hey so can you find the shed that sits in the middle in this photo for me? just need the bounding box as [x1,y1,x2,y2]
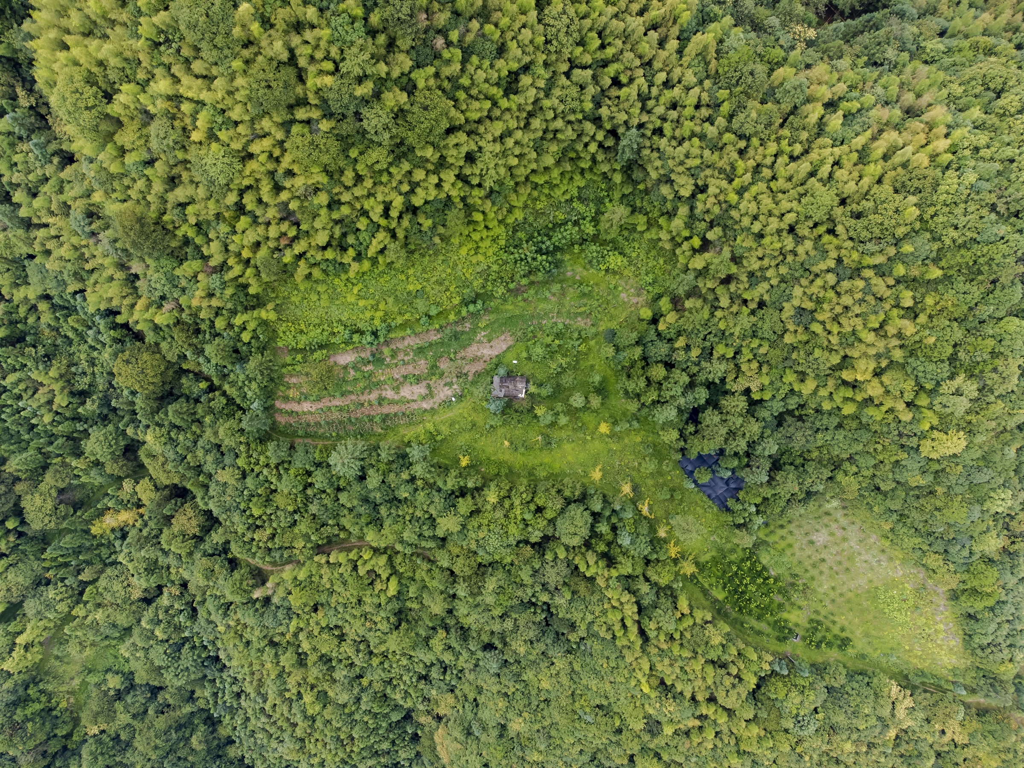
[491,376,526,398]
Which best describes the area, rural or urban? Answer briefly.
rural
